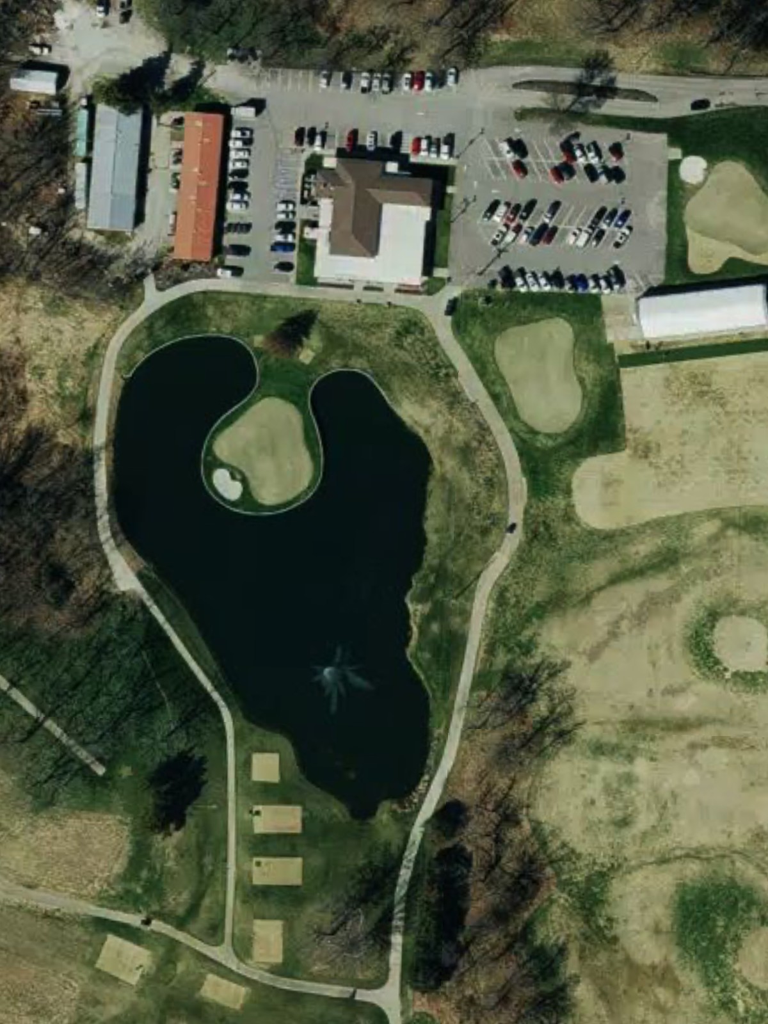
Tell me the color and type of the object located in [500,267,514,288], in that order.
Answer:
black car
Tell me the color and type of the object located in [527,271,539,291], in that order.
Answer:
white vehicle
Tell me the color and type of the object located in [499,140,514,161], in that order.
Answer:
white car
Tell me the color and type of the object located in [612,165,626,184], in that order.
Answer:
black car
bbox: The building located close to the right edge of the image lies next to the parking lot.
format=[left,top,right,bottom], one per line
[638,284,767,344]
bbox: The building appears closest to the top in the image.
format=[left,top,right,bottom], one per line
[10,69,58,95]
